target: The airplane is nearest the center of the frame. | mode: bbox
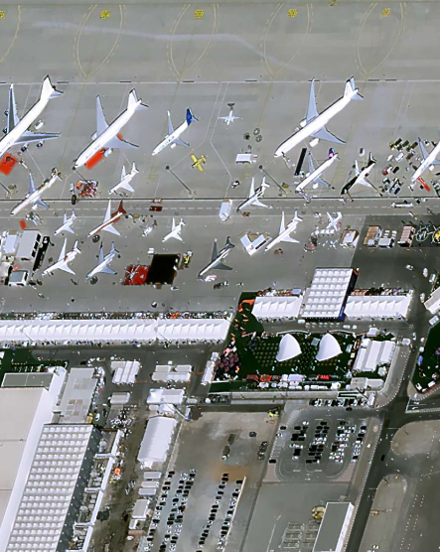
[200,238,235,277]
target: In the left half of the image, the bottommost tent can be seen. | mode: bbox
[137,416,181,464]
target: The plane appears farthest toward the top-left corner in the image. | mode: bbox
[0,85,61,156]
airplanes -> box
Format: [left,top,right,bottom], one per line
[238,177,269,212]
[42,240,79,277]
[412,135,440,180]
[55,211,76,235]
[218,104,240,125]
[89,201,126,238]
[415,226,429,242]
[200,238,235,277]
[111,165,137,193]
[275,75,361,156]
[12,168,61,215]
[298,149,340,190]
[266,212,303,250]
[323,210,342,229]
[0,85,61,156]
[153,113,196,155]
[87,246,117,278]
[192,155,205,171]
[163,218,185,241]
[342,156,379,193]
[75,93,146,167]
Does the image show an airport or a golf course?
airport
